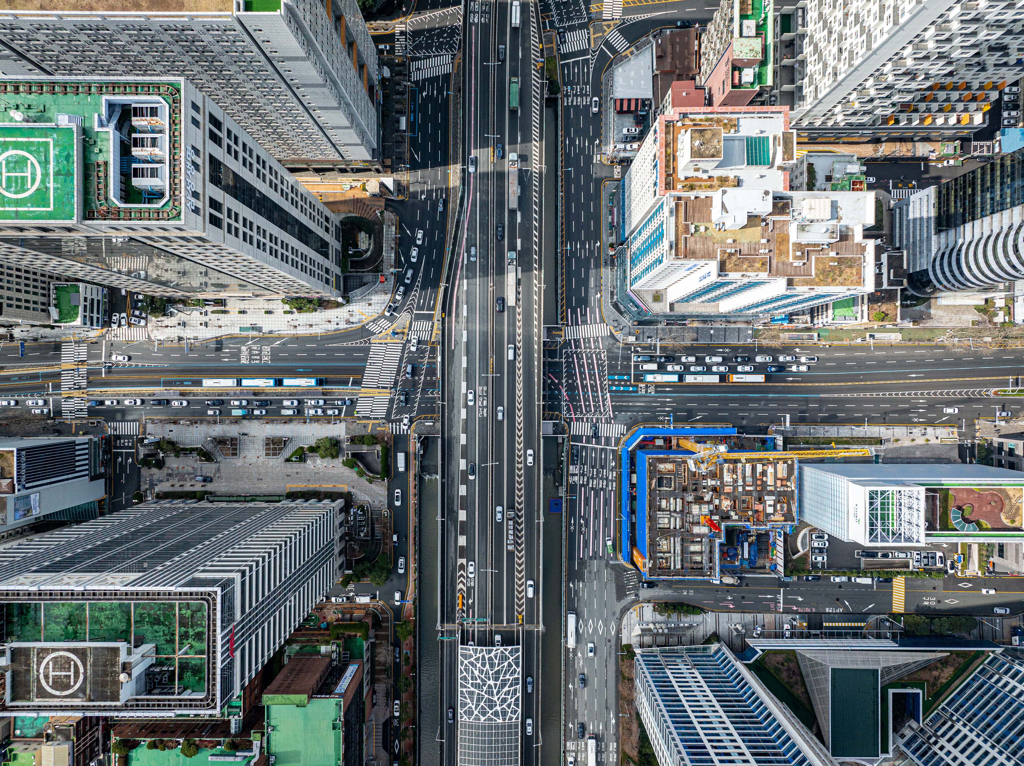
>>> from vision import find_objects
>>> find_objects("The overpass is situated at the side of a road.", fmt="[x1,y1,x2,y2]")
[438,0,547,766]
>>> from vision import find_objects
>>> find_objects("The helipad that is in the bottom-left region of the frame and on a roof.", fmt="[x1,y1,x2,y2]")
[4,641,129,706]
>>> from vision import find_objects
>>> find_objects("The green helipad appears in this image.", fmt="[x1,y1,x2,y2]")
[0,123,89,227]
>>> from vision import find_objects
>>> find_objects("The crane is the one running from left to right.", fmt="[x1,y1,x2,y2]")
[673,437,874,460]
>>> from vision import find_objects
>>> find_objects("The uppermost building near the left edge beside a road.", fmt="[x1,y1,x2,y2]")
[0,0,383,172]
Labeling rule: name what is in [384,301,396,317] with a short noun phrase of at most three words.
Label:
vehicle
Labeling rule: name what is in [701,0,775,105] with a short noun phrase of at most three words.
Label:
building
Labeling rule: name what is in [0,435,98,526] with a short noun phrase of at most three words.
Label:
building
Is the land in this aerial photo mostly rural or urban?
urban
